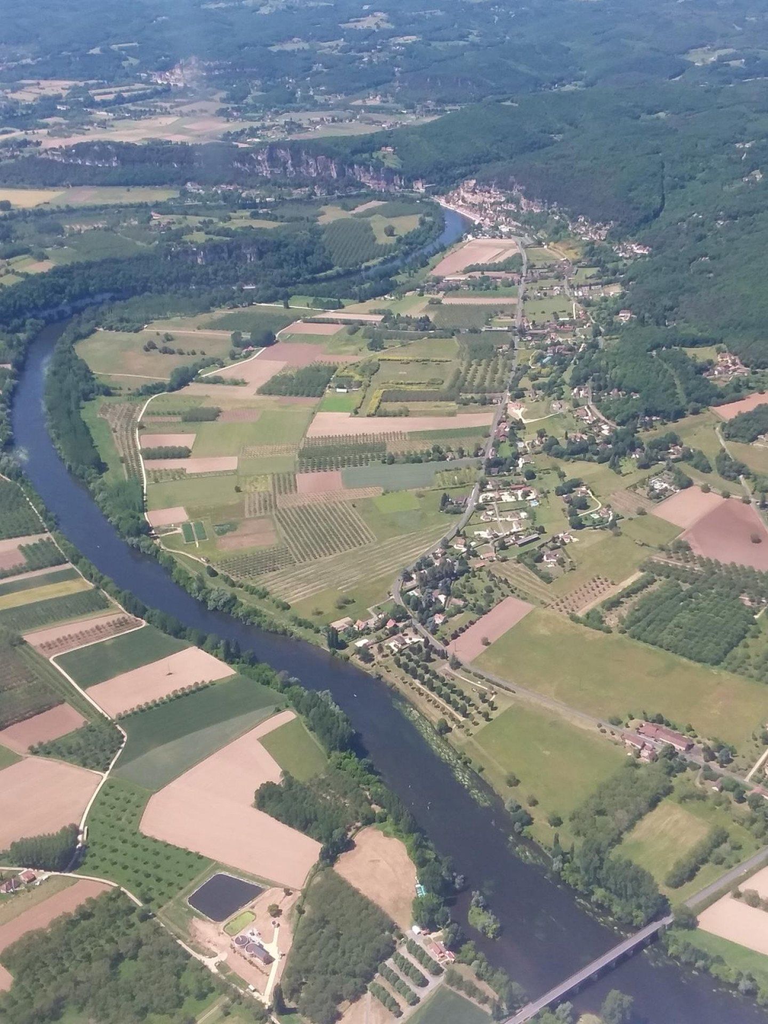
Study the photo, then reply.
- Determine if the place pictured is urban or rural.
rural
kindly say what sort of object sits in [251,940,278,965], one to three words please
building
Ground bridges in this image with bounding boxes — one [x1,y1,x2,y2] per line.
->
[503,910,680,1024]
